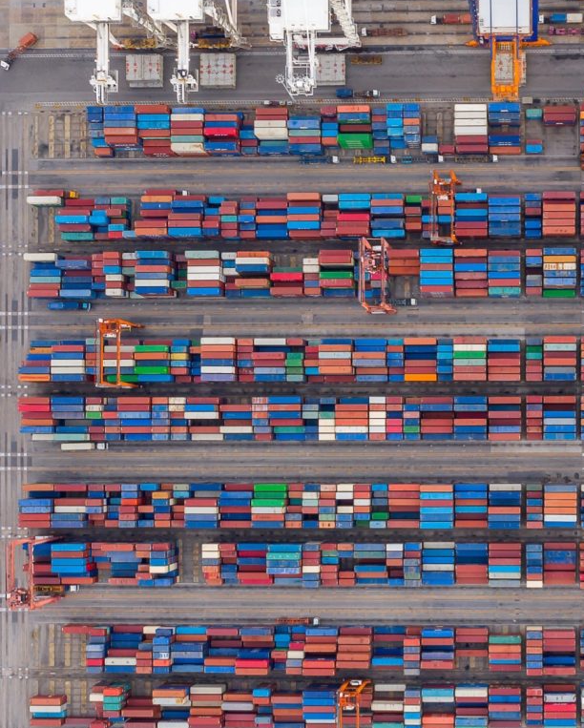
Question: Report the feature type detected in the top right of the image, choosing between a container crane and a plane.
container crane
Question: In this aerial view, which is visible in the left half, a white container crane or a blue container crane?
white container crane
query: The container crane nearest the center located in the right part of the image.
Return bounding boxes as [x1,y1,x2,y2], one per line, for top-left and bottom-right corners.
[359,238,399,314]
